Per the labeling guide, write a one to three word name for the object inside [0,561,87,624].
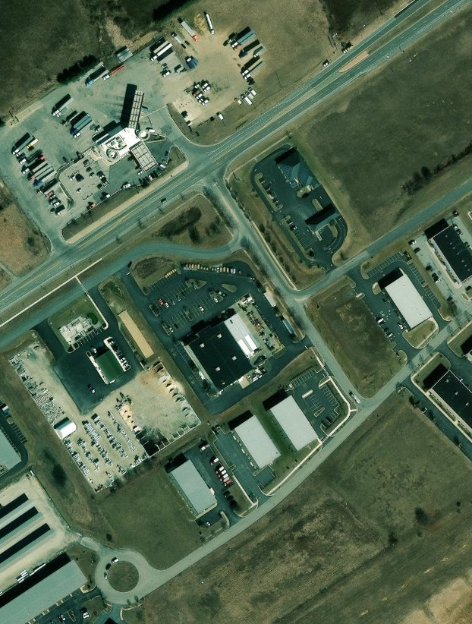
building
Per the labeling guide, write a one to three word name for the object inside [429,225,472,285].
building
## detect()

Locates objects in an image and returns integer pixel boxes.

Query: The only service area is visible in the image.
[90,128,142,160]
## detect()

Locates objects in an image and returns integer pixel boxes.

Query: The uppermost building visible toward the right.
[276,148,320,196]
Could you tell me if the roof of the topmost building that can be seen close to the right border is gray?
No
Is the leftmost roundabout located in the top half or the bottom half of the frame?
bottom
